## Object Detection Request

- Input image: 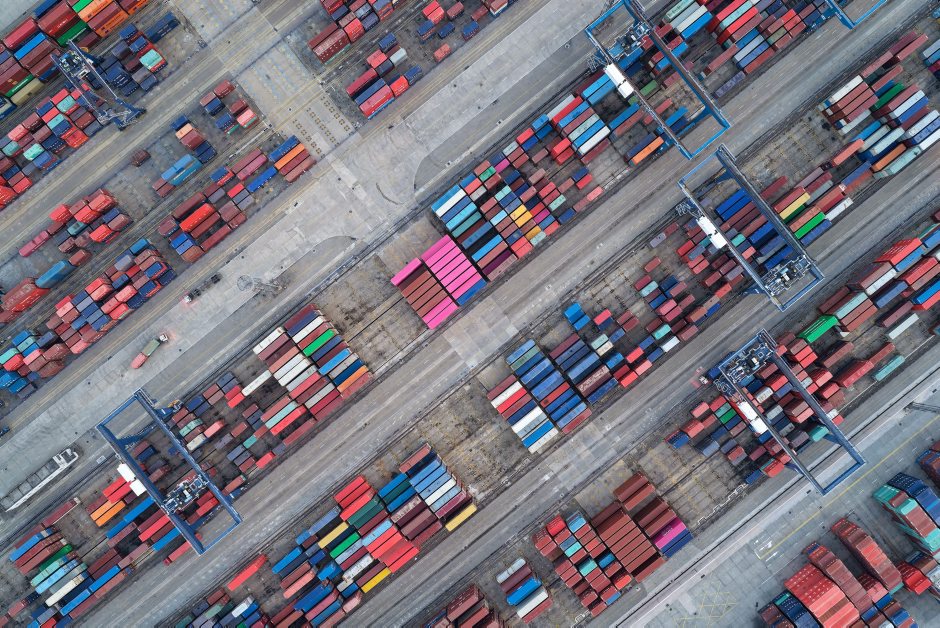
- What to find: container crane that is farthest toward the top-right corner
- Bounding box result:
[794,0,890,46]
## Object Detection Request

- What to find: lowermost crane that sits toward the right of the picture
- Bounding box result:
[701,323,871,499]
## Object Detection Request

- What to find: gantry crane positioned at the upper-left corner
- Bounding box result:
[44,33,148,129]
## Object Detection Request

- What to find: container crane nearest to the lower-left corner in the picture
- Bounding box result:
[95,386,258,560]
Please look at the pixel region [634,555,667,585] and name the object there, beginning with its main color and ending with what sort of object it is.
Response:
red shipping container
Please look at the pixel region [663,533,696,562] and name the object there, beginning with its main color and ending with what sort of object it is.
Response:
blue shipping container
